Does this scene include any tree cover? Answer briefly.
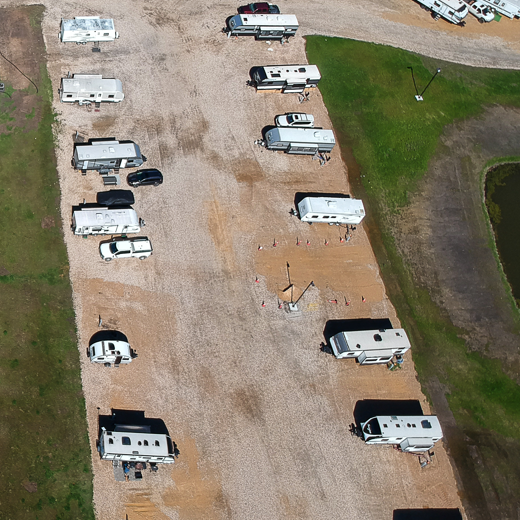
No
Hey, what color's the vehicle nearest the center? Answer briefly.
white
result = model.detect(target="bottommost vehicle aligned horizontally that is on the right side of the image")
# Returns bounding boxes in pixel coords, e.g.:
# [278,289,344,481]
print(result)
[344,416,443,453]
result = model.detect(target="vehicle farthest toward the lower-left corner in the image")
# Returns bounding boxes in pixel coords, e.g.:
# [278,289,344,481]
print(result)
[97,418,178,472]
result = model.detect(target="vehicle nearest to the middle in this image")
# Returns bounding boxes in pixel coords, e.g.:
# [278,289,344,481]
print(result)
[282,196,365,228]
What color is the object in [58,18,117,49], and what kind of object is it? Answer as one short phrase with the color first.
white vehicle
